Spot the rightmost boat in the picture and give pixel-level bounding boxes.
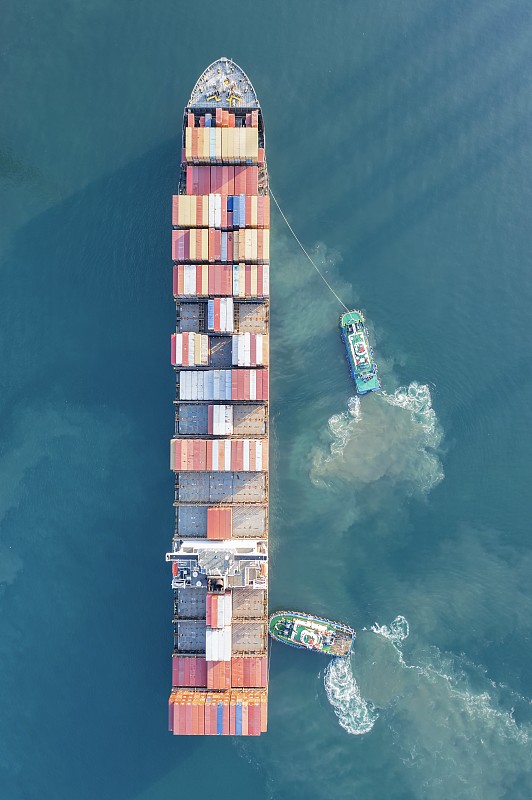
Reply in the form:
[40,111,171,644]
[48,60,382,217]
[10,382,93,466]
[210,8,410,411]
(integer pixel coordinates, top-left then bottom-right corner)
[341,310,380,394]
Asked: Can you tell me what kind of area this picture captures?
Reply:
port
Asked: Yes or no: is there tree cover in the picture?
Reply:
No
